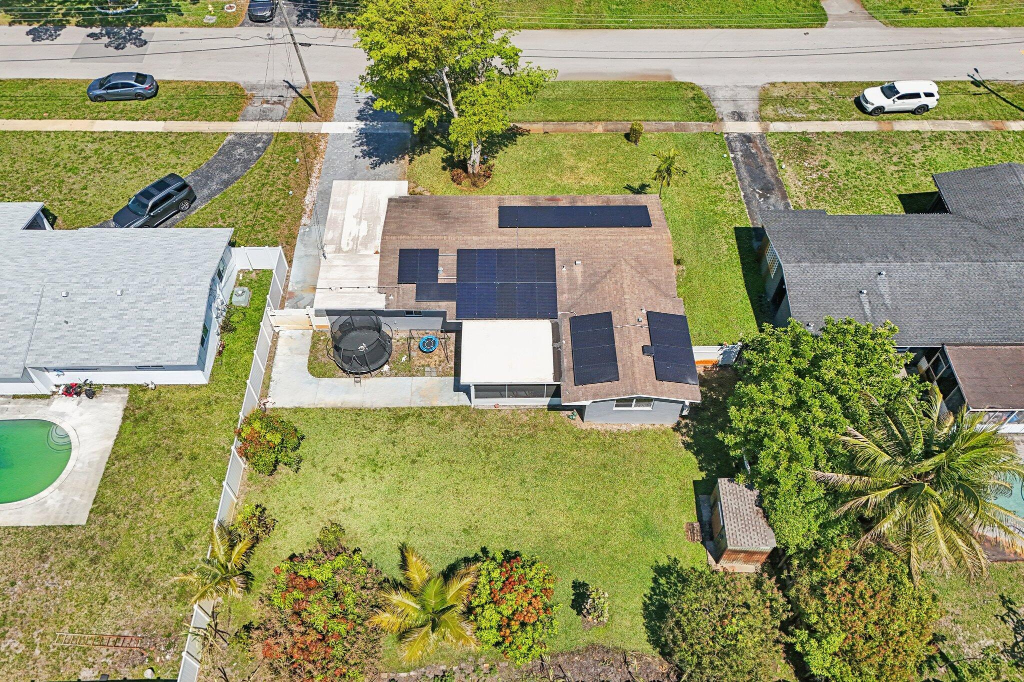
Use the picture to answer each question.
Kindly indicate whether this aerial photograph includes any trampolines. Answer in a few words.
Yes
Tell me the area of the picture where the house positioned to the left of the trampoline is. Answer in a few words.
left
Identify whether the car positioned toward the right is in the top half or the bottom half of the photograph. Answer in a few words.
top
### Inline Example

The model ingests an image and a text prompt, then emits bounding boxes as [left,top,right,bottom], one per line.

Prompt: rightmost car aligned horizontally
[855,77,941,116]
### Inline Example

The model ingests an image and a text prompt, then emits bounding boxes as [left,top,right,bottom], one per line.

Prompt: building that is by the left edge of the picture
[0,201,246,393]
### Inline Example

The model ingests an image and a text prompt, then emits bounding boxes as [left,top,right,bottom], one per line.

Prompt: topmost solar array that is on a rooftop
[497,206,653,227]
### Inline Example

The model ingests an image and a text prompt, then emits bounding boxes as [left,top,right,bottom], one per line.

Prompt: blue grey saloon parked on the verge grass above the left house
[84,69,159,102]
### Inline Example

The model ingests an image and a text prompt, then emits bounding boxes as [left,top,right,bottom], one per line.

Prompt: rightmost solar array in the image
[646,312,699,385]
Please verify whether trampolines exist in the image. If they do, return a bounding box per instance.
[323,312,399,385]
